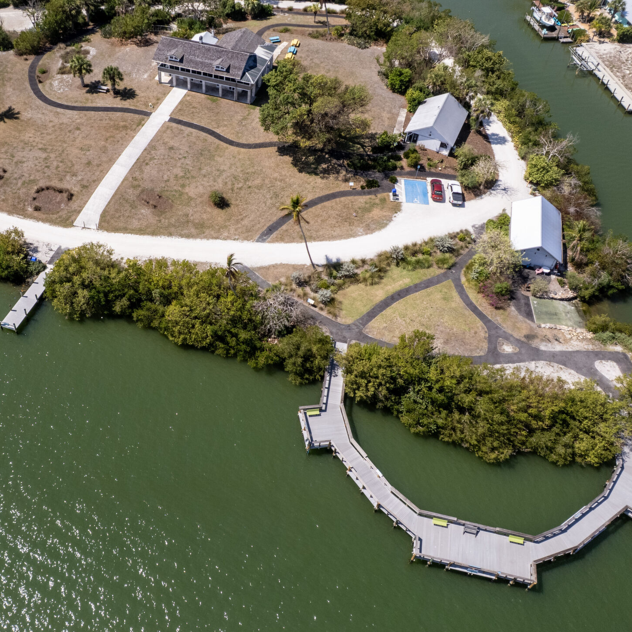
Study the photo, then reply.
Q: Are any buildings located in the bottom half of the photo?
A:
No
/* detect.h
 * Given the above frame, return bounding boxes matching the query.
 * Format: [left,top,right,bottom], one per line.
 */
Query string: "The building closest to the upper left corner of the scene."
[151,27,283,106]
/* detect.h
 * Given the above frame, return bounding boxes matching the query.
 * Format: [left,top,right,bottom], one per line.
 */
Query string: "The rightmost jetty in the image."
[574,46,632,114]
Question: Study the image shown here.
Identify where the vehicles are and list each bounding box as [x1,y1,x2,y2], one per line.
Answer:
[448,180,465,204]
[430,180,444,200]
